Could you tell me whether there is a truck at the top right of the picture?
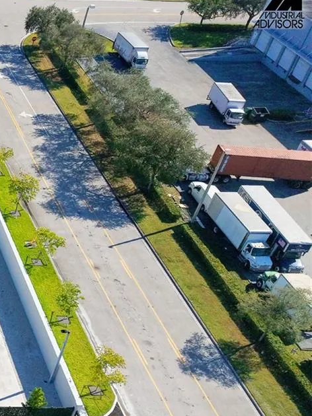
Yes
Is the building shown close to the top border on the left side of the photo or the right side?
right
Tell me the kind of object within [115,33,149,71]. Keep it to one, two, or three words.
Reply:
truck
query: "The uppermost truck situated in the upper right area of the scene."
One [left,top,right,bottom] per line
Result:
[209,84,247,129]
